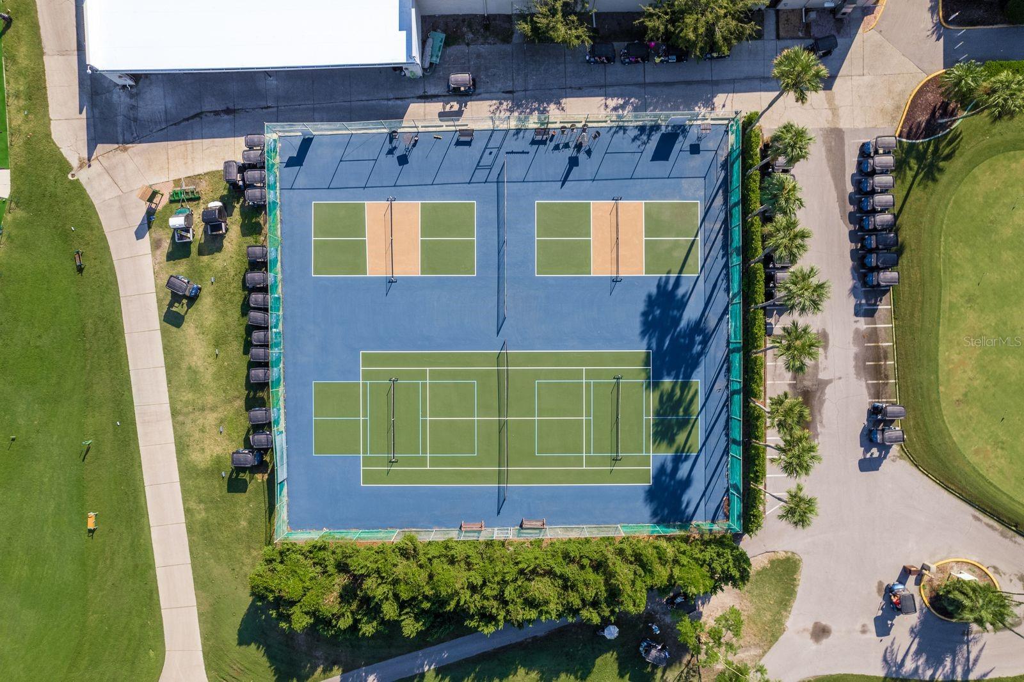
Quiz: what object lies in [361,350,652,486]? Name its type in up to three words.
tennis court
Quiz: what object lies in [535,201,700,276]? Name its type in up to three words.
sports court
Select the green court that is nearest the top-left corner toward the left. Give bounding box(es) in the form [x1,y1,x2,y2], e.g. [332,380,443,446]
[313,202,476,276]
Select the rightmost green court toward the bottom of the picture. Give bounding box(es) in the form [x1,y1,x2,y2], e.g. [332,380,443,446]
[536,381,700,455]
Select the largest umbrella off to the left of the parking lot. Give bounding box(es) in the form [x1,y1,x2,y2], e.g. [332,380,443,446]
[600,624,615,640]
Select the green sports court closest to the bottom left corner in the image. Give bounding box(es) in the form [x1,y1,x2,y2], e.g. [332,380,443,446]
[313,382,476,456]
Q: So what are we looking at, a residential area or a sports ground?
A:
sports ground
